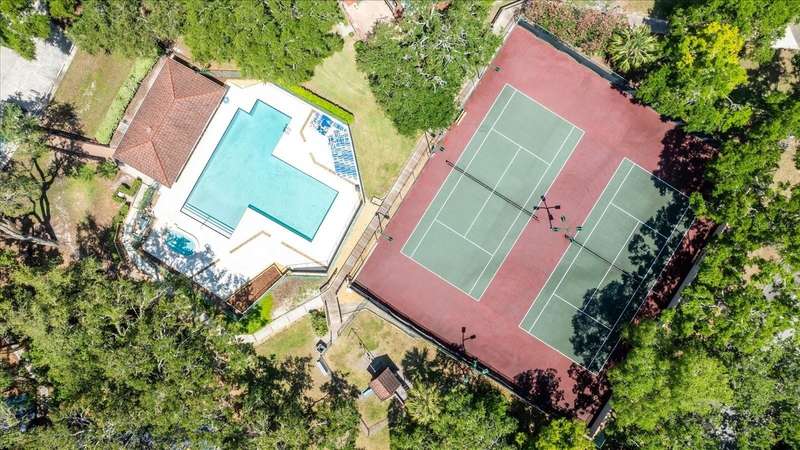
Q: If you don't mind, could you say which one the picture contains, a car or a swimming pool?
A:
swimming pool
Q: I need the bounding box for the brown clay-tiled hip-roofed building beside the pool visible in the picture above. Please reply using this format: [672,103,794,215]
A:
[111,55,229,187]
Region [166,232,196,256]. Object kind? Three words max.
swimming pool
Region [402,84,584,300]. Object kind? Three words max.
tennis court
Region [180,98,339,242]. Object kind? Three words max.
swimming pool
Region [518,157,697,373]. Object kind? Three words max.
tennis court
